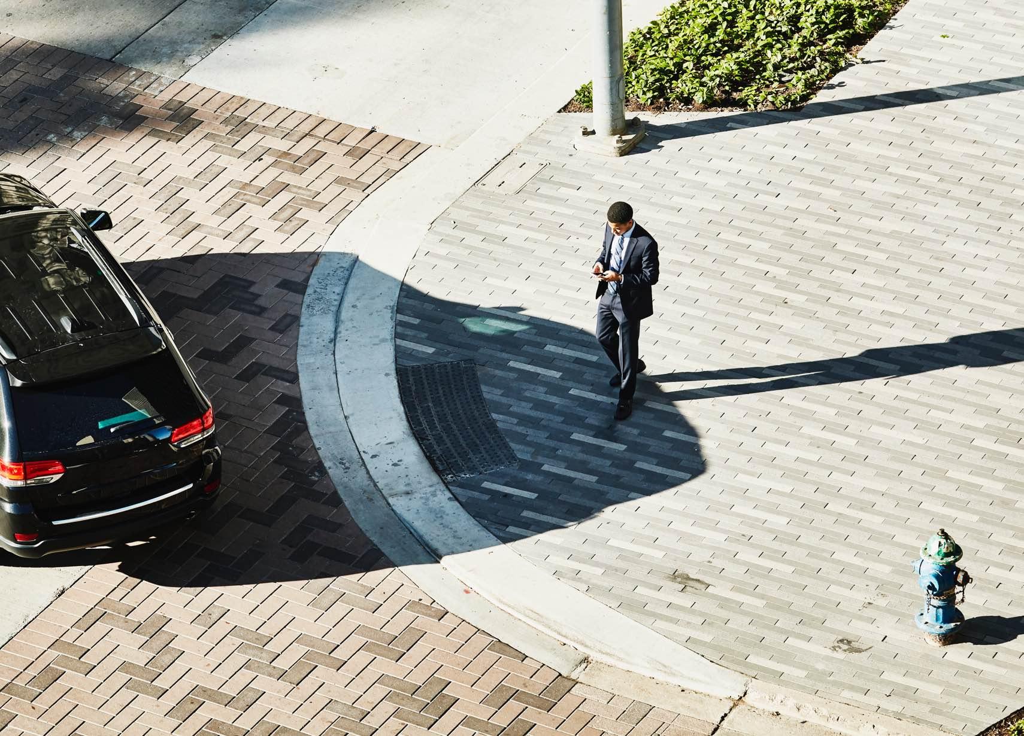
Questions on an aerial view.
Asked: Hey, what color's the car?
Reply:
black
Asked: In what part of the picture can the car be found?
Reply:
left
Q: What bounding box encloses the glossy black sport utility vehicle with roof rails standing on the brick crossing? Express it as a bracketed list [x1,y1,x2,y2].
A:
[0,177,223,564]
